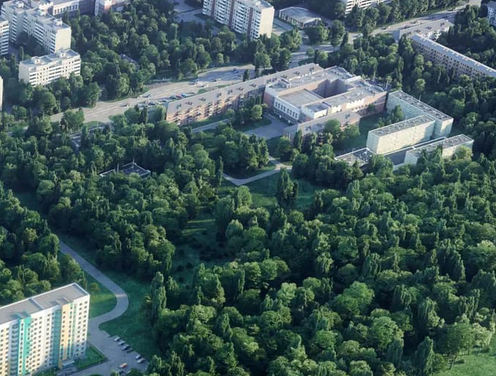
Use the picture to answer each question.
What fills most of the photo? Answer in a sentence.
The scene is dominated by trees.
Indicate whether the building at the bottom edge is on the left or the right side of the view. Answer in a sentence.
You can find the building at the bottom edge on the left side of the picture.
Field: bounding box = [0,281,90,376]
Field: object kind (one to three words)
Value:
building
